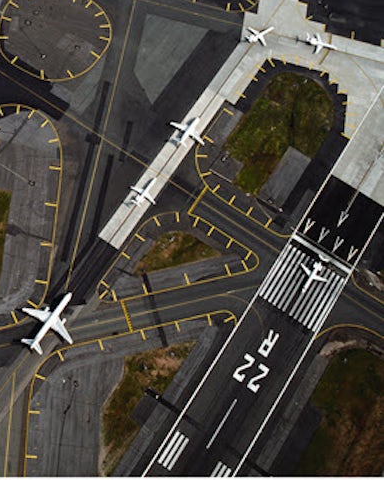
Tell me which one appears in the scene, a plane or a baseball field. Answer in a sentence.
This aerial view contains a plane.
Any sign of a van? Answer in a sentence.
No, there is no van in the image.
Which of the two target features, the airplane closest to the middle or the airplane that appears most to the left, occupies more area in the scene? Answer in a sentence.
Of the two, the airplane that appears most to the left is bigger, while the airplane closest to the middle is smaller.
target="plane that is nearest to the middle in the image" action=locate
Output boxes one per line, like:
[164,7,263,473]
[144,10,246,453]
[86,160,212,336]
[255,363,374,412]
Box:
[131,178,157,207]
